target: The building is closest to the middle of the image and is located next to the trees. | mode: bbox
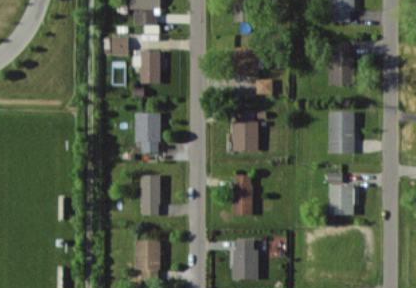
[229,120,260,152]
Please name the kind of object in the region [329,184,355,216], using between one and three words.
house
